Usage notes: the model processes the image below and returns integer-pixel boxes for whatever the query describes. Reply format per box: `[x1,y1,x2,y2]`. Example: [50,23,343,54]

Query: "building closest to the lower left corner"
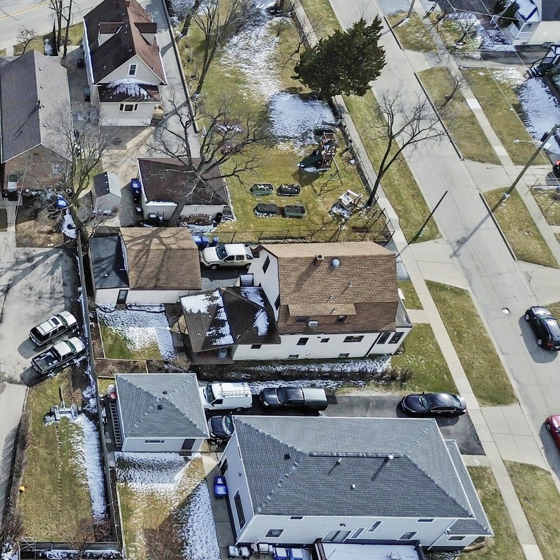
[113,370,213,459]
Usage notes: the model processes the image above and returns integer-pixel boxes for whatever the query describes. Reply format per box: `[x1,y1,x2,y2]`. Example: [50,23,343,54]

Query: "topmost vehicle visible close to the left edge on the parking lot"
[24,310,82,351]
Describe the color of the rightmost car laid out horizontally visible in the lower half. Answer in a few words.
black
